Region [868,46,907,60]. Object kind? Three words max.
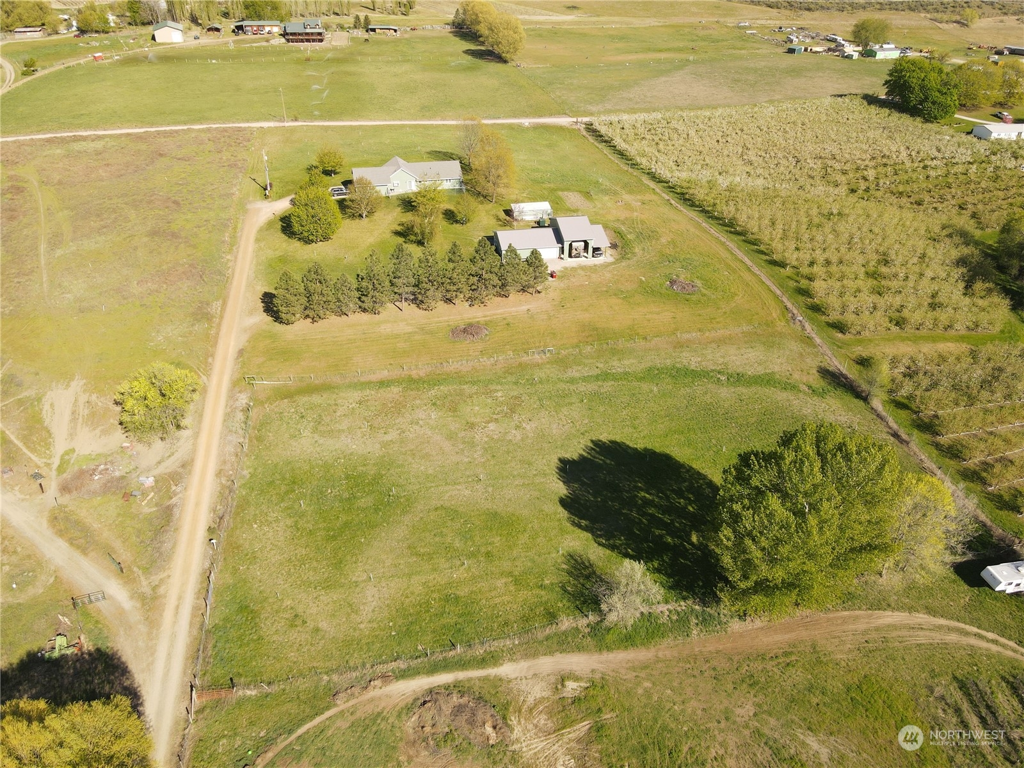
house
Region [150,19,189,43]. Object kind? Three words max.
barn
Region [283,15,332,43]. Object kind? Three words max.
house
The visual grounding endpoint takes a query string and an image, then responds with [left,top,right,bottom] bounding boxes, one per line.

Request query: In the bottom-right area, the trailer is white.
[984,561,1024,597]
